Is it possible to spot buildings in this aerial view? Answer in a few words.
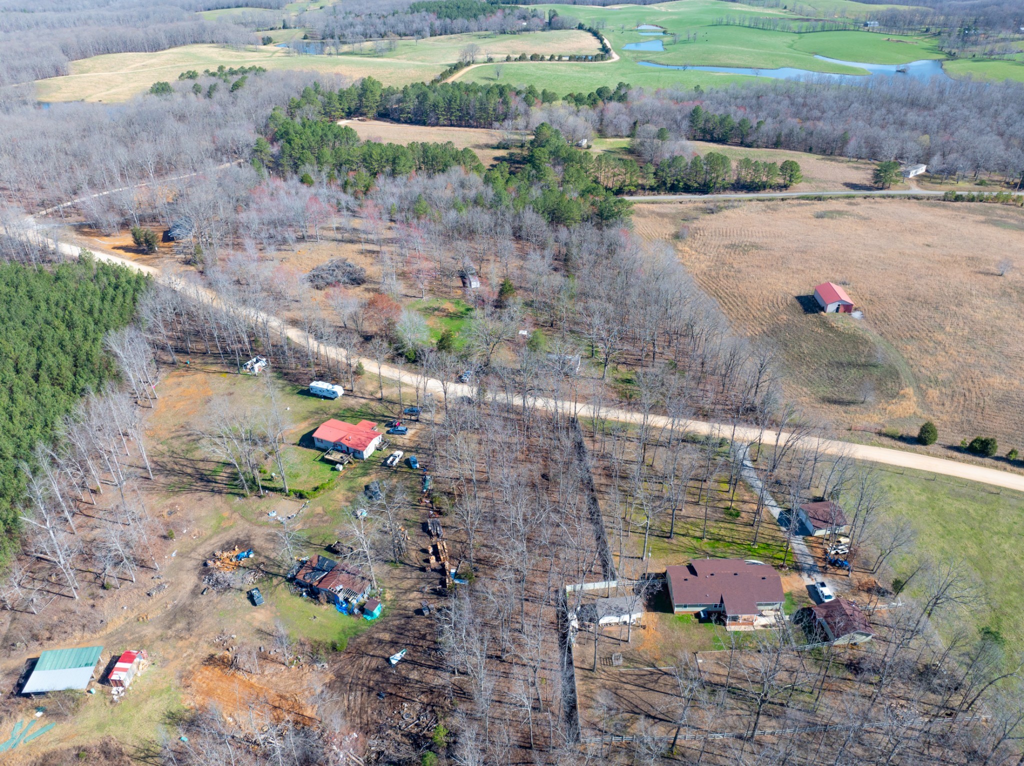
Yes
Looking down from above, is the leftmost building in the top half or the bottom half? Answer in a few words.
bottom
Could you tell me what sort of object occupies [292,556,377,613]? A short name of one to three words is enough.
house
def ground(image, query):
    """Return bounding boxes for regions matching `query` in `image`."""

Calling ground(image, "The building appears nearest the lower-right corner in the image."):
[802,595,876,647]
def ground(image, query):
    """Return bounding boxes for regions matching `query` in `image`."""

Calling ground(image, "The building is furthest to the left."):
[22,645,109,703]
